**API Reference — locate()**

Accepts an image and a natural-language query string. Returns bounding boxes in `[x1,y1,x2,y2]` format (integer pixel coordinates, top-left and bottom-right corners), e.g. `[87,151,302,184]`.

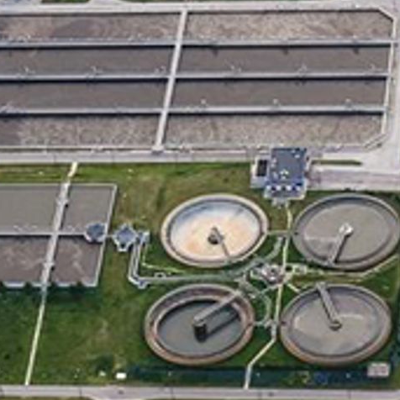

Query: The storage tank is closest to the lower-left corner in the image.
[144,285,255,366]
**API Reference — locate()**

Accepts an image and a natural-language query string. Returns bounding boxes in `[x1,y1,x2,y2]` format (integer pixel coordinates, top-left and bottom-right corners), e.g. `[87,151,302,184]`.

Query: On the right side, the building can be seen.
[266,148,308,206]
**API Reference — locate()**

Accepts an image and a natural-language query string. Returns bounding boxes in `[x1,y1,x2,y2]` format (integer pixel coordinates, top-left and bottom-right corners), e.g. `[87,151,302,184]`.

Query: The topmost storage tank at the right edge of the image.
[292,194,400,272]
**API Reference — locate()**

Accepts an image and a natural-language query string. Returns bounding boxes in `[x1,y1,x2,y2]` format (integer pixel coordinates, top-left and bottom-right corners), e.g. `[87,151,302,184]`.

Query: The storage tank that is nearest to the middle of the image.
[161,194,269,270]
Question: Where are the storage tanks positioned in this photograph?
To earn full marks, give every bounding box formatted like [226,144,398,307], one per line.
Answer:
[279,283,392,367]
[161,194,269,270]
[144,285,255,366]
[292,194,400,272]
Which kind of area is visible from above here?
industrial area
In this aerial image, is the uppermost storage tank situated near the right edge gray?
Yes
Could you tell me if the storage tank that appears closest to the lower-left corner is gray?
Yes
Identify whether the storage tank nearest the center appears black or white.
white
